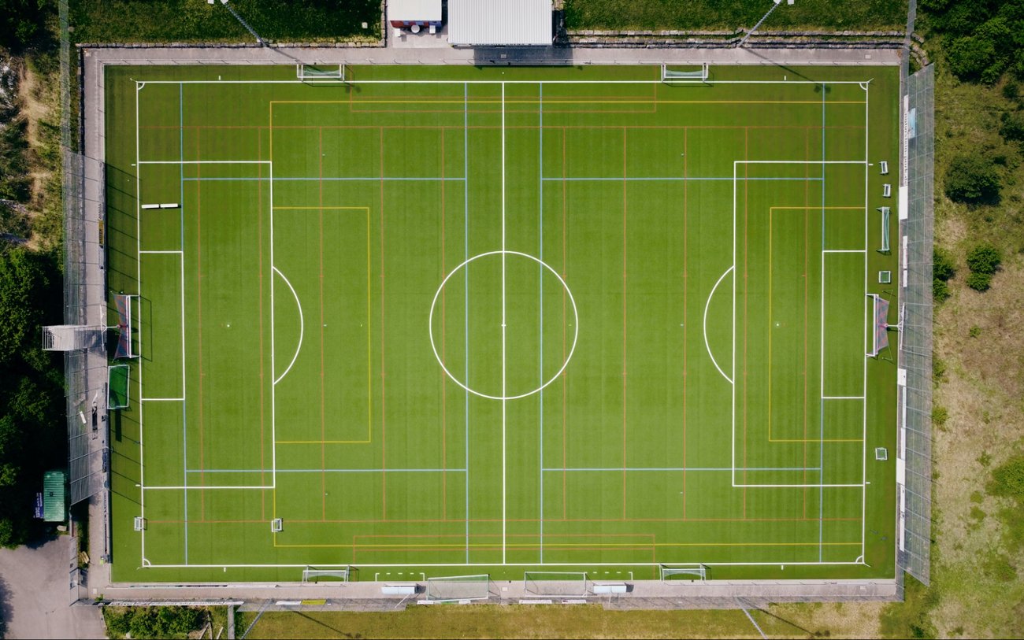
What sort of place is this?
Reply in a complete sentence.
This image shows a sports ground.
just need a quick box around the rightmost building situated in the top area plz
[448,0,553,48]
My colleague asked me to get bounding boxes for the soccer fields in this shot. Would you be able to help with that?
[104,65,899,583]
